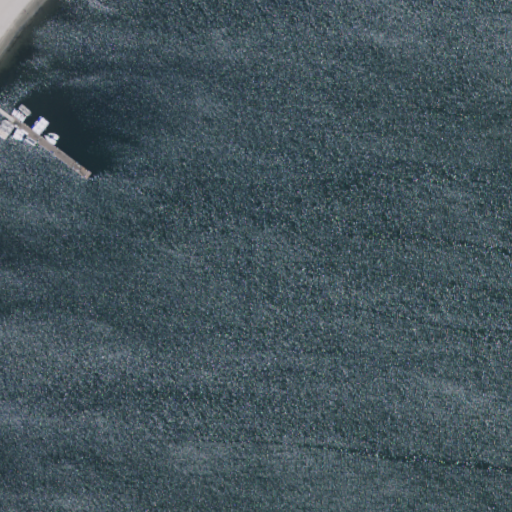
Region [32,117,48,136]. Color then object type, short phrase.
white boat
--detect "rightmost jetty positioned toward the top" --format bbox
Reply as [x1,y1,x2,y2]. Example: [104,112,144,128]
[10,117,92,179]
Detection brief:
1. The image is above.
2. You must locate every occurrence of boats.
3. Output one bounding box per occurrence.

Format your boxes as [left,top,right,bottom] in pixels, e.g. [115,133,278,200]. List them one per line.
[42,135,57,146]
[18,104,32,116]
[25,137,37,146]
[0,126,10,139]
[0,119,14,132]
[32,117,48,136]
[12,130,25,142]
[12,110,26,122]
[48,131,59,140]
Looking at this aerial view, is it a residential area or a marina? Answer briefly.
marina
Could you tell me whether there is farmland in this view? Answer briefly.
No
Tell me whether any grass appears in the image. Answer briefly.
No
